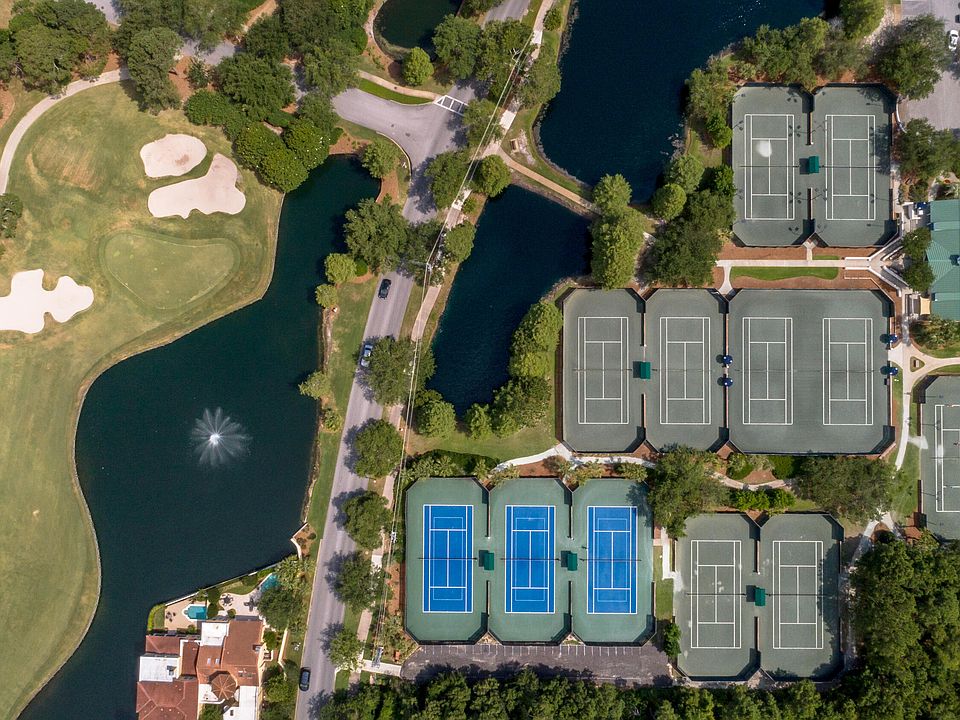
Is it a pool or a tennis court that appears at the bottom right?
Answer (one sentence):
Visible at the bottom right is a tennis court.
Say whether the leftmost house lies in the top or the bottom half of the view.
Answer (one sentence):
The leftmost house sits in the bottom half of the picture.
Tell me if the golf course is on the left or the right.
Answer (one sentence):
It is on the left.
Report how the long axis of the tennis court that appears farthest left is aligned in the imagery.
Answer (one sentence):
In this picture, the tennis court that appears farthest left lies vertically.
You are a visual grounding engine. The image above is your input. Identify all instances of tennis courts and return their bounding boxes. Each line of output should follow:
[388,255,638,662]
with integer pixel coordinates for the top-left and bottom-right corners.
[564,289,646,451]
[738,86,813,243]
[761,517,841,680]
[406,481,489,643]
[677,517,761,681]
[922,378,960,540]
[573,482,653,644]
[489,482,573,643]
[729,290,808,453]
[646,289,729,452]
[807,291,892,454]
[813,87,892,244]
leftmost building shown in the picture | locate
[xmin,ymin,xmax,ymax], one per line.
[135,629,206,720]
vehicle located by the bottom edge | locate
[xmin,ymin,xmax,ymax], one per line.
[298,667,310,690]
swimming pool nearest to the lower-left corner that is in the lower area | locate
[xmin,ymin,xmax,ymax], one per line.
[181,603,208,622]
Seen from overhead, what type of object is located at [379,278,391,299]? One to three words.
vehicle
